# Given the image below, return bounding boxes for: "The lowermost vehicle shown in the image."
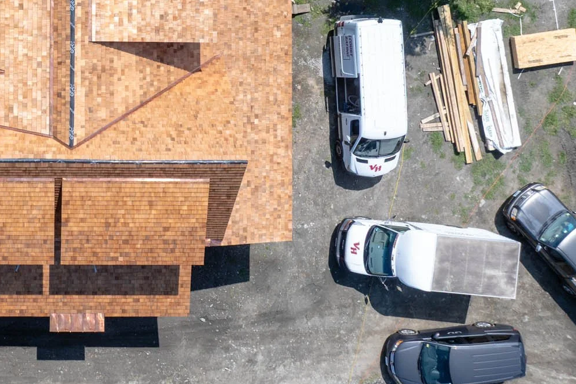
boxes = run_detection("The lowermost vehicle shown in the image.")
[383,320,533,384]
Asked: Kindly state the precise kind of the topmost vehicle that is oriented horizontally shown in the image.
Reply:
truck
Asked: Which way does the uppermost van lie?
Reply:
up and down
